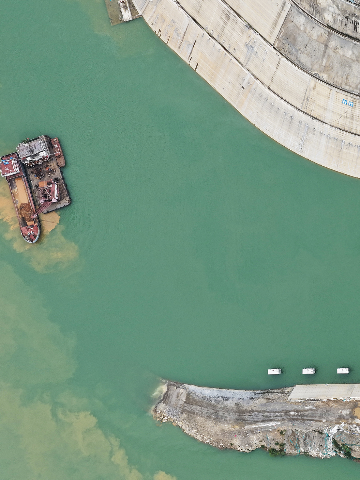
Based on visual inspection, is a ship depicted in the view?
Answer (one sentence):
Yes, you can see a ship in this photo.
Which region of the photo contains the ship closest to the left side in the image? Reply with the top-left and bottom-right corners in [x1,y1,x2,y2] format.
[0,152,43,244]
